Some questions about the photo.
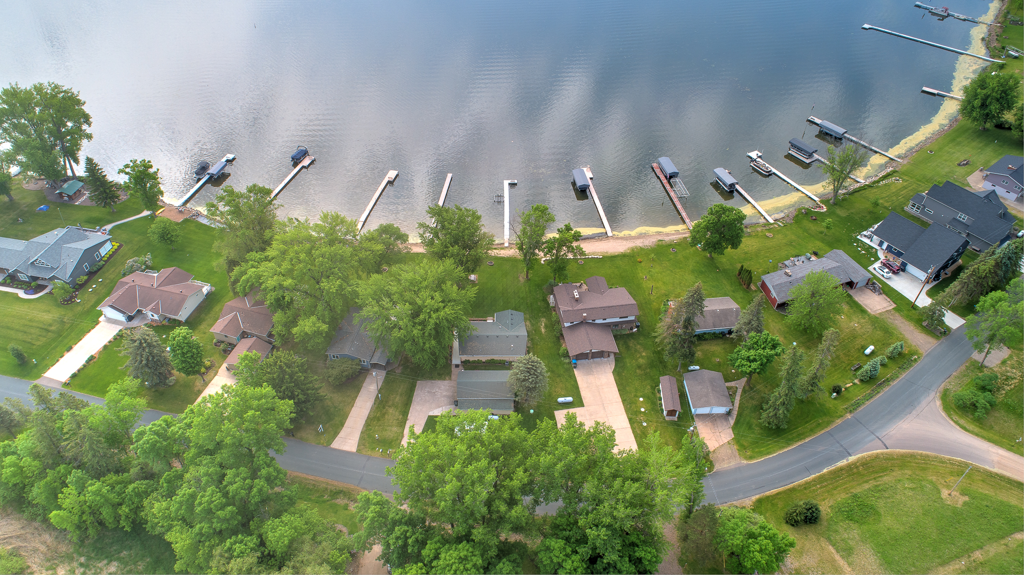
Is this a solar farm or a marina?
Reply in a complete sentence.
This looks like a marina.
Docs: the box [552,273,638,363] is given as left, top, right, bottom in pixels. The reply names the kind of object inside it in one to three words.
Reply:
house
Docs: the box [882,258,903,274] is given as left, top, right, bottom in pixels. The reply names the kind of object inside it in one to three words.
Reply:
car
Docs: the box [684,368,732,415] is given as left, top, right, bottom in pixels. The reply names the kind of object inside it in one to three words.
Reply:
building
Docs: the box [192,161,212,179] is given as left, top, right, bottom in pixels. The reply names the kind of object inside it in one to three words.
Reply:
boat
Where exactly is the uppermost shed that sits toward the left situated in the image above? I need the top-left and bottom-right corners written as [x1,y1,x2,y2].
[56,179,87,201]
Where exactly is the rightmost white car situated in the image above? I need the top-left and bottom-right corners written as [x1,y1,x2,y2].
[873,265,893,280]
